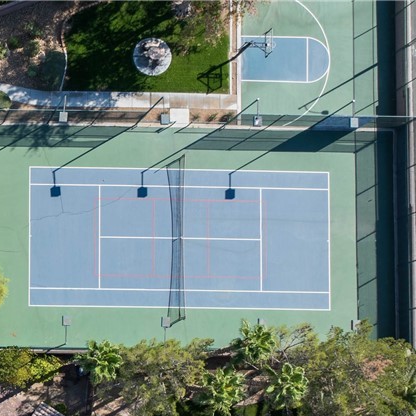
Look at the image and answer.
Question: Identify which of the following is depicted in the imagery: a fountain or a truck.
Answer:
fountain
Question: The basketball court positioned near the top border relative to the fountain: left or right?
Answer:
on its right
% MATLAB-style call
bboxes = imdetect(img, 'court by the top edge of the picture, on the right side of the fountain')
[240,0,377,124]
